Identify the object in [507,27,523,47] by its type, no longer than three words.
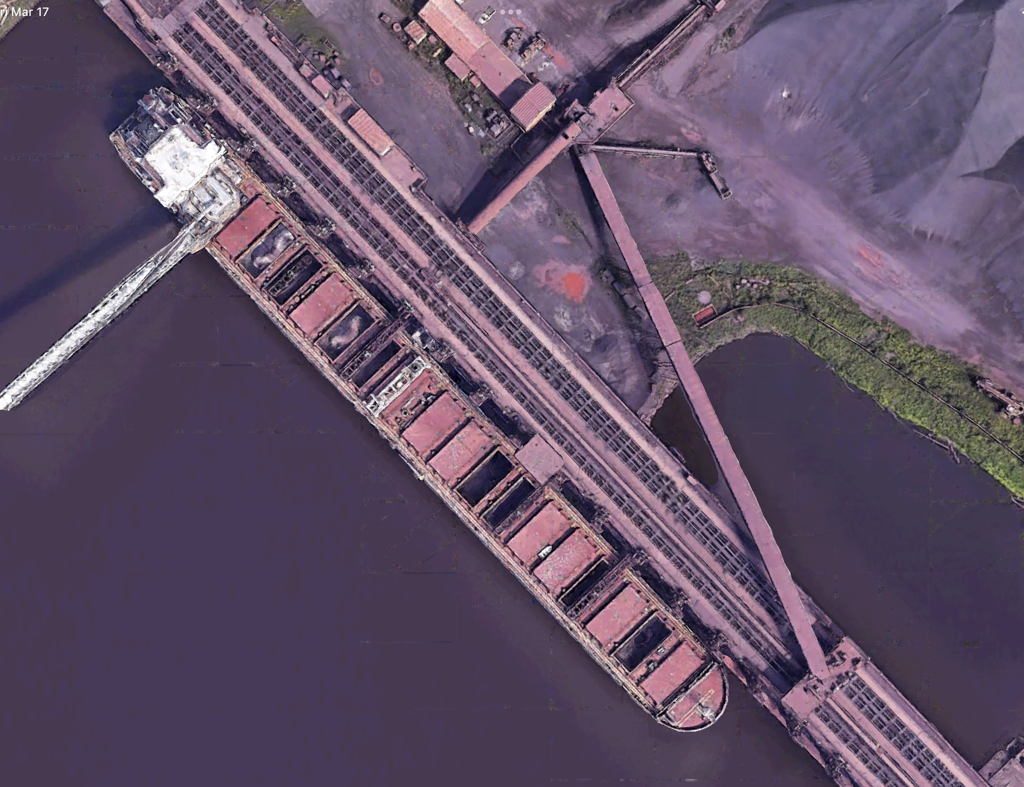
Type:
work vehicle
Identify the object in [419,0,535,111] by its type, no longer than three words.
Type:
building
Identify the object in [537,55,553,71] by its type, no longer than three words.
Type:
vehicle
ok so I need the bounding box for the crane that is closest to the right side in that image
[972,377,1024,418]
